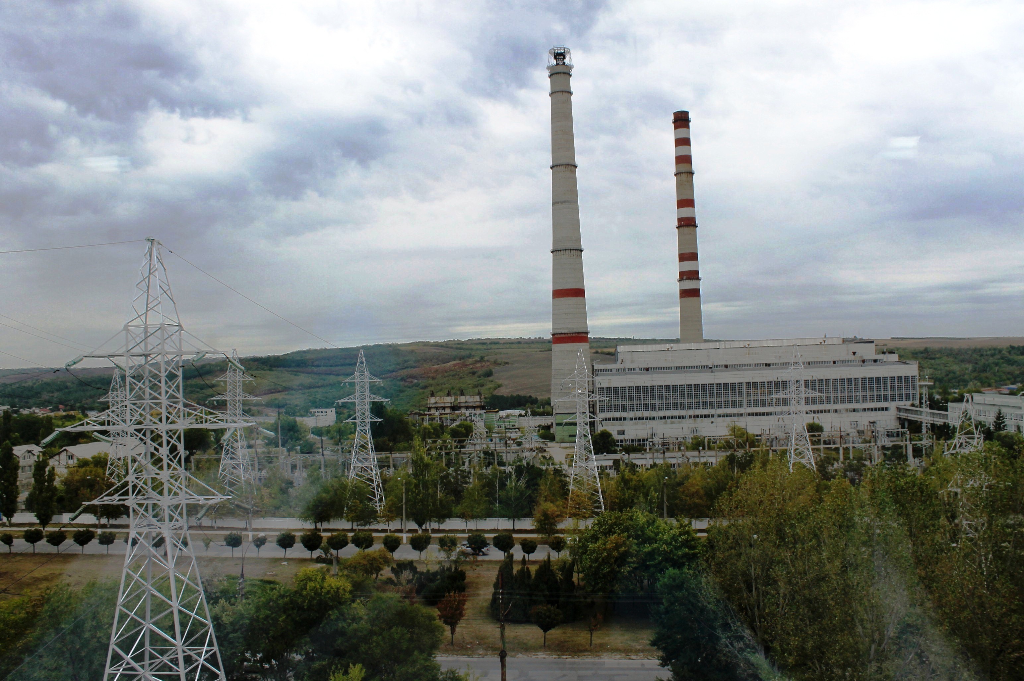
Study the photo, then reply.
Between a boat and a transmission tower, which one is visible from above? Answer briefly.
transmission tower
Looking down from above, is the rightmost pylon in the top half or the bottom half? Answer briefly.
bottom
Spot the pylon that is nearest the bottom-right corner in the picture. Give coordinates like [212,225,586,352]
[932,394,1012,493]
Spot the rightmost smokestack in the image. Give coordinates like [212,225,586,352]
[673,109,703,343]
